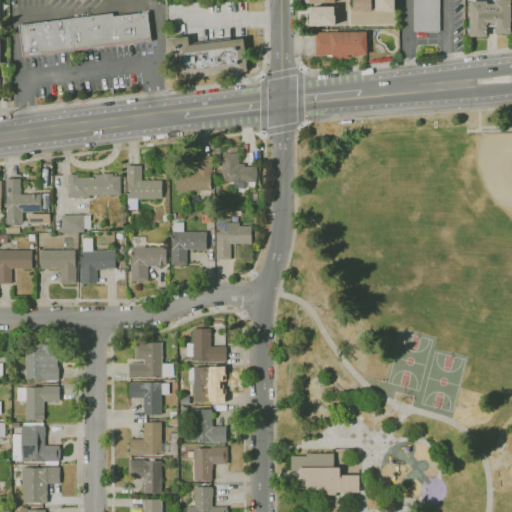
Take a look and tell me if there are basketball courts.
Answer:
Yes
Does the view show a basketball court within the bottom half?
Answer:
Yes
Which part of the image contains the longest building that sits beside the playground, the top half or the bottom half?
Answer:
bottom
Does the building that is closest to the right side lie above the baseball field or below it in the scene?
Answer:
above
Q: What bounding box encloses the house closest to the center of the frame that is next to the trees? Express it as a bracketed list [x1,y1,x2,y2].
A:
[216,216,252,259]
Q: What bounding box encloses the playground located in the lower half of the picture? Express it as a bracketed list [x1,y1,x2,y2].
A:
[384,442,447,502]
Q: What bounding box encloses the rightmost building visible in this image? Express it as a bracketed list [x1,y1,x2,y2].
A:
[468,1,512,37]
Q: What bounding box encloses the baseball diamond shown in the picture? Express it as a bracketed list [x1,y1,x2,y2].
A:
[478,132,512,208]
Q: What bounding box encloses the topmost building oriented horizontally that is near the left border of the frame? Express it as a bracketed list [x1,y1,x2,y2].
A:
[18,10,152,57]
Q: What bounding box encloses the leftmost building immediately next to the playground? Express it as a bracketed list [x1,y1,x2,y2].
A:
[292,454,360,496]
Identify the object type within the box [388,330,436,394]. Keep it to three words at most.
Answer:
basketball court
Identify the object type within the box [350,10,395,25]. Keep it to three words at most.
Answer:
building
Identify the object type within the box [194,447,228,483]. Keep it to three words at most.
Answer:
house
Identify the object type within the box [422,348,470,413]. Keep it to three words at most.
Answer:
basketball court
